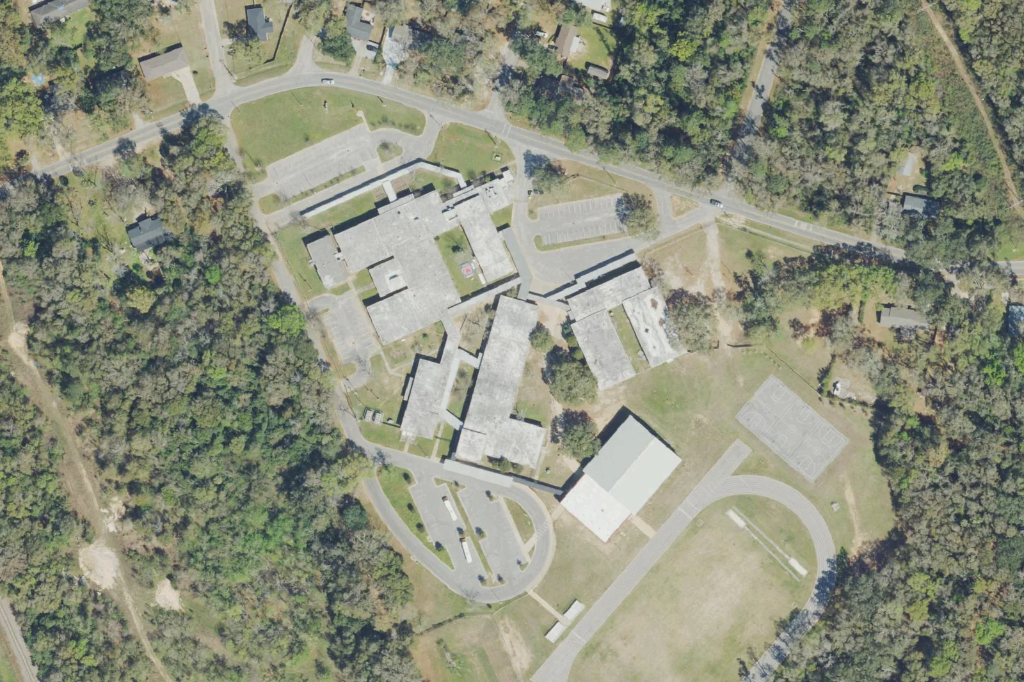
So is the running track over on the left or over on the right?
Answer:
right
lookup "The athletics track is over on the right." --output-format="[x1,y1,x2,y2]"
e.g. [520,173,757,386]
[532,438,835,682]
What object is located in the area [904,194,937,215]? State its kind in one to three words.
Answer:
house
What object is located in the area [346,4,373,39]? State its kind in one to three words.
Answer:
house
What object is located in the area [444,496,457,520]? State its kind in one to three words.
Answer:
vehicle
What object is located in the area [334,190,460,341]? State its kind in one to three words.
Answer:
building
